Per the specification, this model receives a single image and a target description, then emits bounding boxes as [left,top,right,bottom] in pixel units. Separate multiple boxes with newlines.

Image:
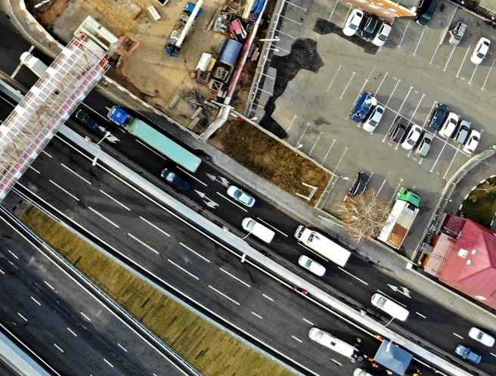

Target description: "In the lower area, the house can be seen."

[411,212,496,310]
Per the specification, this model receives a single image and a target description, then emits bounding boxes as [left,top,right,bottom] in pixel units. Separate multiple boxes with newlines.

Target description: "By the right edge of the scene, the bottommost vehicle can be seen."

[452,343,484,365]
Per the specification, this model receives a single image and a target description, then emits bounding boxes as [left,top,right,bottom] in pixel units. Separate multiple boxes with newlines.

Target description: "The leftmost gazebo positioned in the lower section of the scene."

[367,345,412,376]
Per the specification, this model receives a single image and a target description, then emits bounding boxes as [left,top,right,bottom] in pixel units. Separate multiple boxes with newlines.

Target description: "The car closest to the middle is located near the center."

[226,183,257,209]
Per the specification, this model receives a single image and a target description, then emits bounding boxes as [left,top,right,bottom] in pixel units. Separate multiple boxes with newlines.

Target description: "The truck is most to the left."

[17,48,51,78]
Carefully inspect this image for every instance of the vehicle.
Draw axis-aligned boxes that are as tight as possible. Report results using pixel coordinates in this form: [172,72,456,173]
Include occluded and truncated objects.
[74,110,102,132]
[237,215,279,246]
[437,111,459,140]
[445,19,469,47]
[386,116,410,145]
[345,170,372,200]
[341,7,365,38]
[449,118,472,147]
[361,104,386,134]
[350,365,376,376]
[412,131,433,160]
[102,104,207,174]
[306,325,364,368]
[465,326,496,349]
[226,183,257,209]
[296,254,327,279]
[413,0,440,27]
[459,129,483,156]
[357,14,379,41]
[17,48,51,78]
[426,103,449,131]
[370,20,392,48]
[350,91,376,123]
[468,37,492,66]
[366,291,415,326]
[399,124,423,153]
[287,222,358,272]
[159,167,194,195]
[452,343,484,365]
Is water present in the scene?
No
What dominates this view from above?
paved ground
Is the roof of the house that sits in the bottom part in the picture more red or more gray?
red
